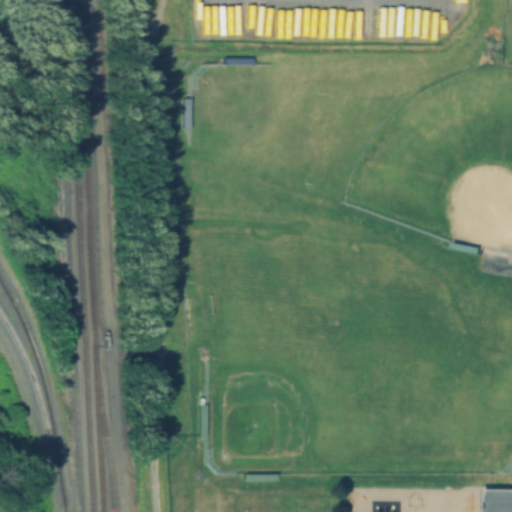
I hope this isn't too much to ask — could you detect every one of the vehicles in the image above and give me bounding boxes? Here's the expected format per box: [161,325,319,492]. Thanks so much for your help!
[310,8,319,38]
[430,12,439,42]
[284,9,294,40]
[378,6,388,39]
[234,4,242,36]
[336,8,346,40]
[420,10,430,40]
[327,7,337,40]
[439,16,448,34]
[354,10,364,41]
[247,4,256,30]
[202,4,212,37]
[293,7,302,38]
[264,6,274,38]
[344,10,354,40]
[395,6,406,38]
[302,7,311,38]
[256,5,266,38]
[318,8,328,40]
[386,6,396,39]
[226,4,234,37]
[412,7,422,38]
[218,5,227,38]
[276,9,285,40]
[211,4,220,36]
[196,0,204,22]
[404,8,414,38]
